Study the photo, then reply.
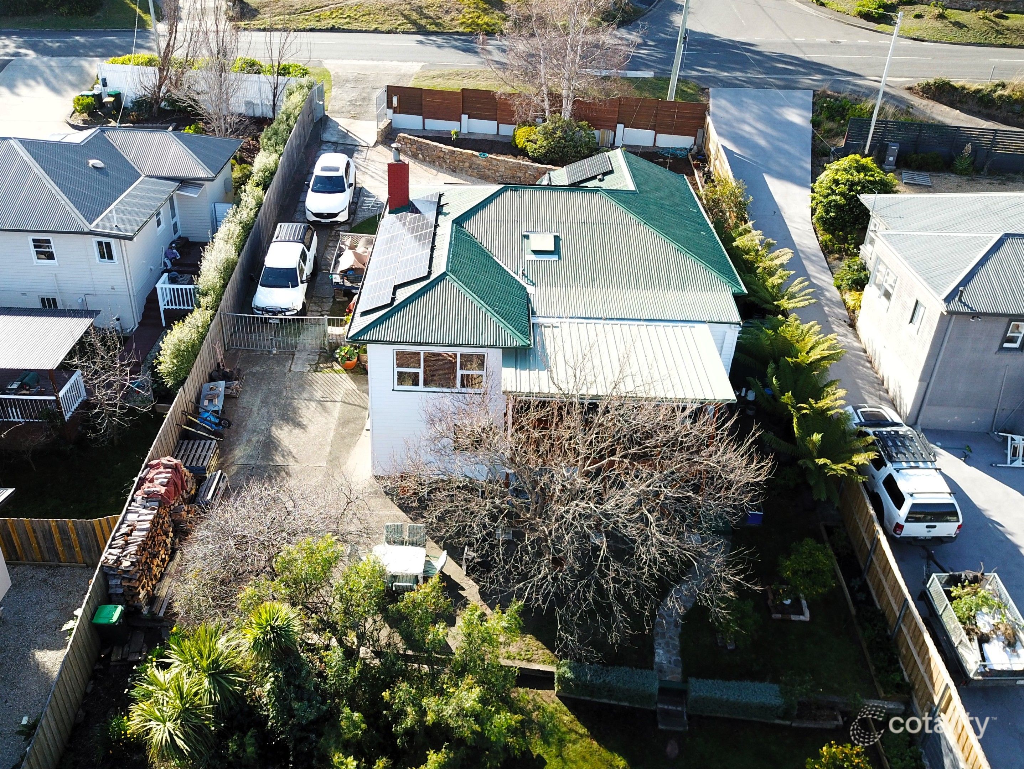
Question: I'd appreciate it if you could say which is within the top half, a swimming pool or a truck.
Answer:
truck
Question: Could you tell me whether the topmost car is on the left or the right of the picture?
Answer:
left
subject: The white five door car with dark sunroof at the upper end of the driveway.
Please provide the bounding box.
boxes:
[301,153,354,220]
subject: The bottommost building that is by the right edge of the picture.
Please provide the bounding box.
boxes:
[849,188,1024,426]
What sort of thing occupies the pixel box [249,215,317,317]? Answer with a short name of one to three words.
truck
